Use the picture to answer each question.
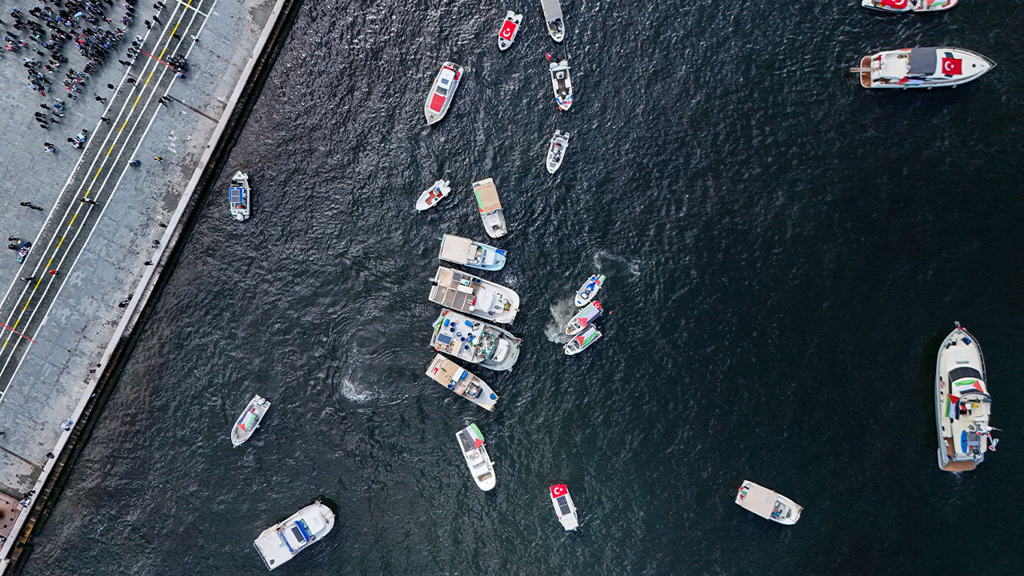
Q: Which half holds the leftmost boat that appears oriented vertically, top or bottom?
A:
top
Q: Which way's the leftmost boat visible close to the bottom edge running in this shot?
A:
on a diagonal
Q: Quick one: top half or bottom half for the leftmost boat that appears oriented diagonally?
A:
bottom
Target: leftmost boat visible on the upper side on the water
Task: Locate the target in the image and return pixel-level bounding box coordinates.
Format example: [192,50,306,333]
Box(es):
[230,168,252,222]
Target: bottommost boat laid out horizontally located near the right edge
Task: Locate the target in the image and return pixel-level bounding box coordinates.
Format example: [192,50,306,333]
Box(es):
[845,47,1001,90]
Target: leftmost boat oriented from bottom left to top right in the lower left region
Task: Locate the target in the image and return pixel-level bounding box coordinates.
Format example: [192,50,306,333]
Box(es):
[230,391,273,447]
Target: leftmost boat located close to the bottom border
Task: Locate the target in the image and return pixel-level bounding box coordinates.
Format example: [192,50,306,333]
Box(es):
[253,501,336,569]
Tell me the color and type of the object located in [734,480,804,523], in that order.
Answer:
white boat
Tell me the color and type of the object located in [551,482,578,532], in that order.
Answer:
white boat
